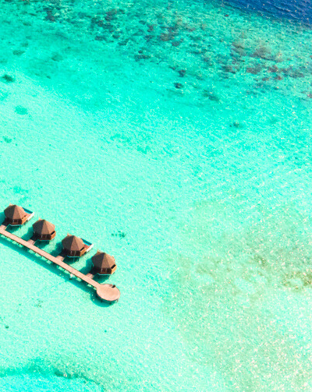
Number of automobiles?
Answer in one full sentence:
There are no automobiles in the image.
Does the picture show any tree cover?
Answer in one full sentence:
No, no tree cover is visible.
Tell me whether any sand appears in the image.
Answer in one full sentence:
No, the picture contains no sand.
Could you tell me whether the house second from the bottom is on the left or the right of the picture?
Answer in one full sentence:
It is on the left.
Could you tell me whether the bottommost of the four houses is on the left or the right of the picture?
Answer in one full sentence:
The bottommost of the four houses sits on the left side.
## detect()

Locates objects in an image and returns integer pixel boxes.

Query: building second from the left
[30,218,57,241]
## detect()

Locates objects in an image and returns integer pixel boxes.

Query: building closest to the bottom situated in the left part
[88,250,118,274]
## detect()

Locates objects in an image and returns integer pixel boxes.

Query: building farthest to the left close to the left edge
[1,205,29,226]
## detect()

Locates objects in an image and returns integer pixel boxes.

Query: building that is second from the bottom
[58,234,87,258]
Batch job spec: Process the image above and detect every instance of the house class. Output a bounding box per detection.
[88,250,118,274]
[30,218,57,241]
[1,205,29,226]
[58,234,87,258]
